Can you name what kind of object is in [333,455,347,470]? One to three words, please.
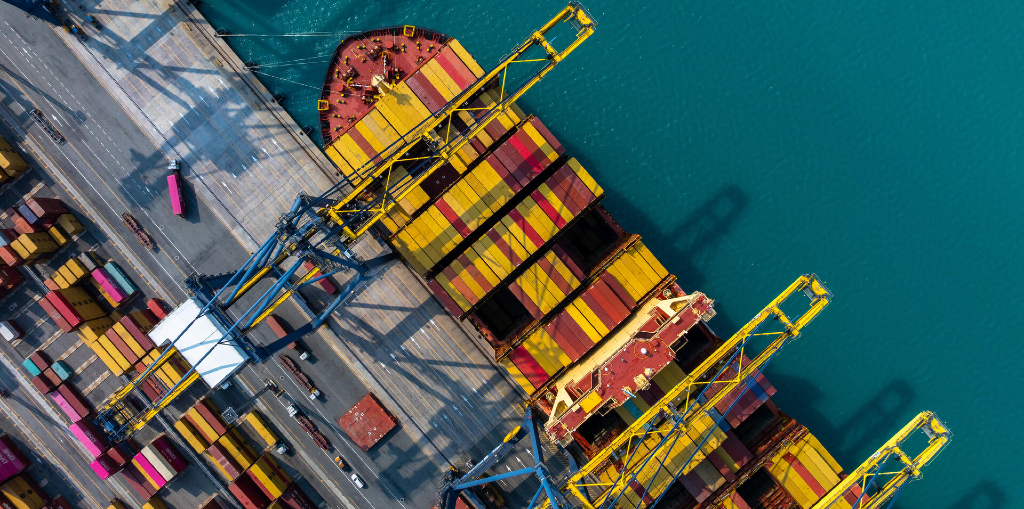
vehicle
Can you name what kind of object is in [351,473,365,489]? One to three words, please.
car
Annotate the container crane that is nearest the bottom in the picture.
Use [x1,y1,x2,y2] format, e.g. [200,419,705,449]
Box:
[800,406,952,509]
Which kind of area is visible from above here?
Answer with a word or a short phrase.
port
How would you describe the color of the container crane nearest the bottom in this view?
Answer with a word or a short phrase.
yellow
